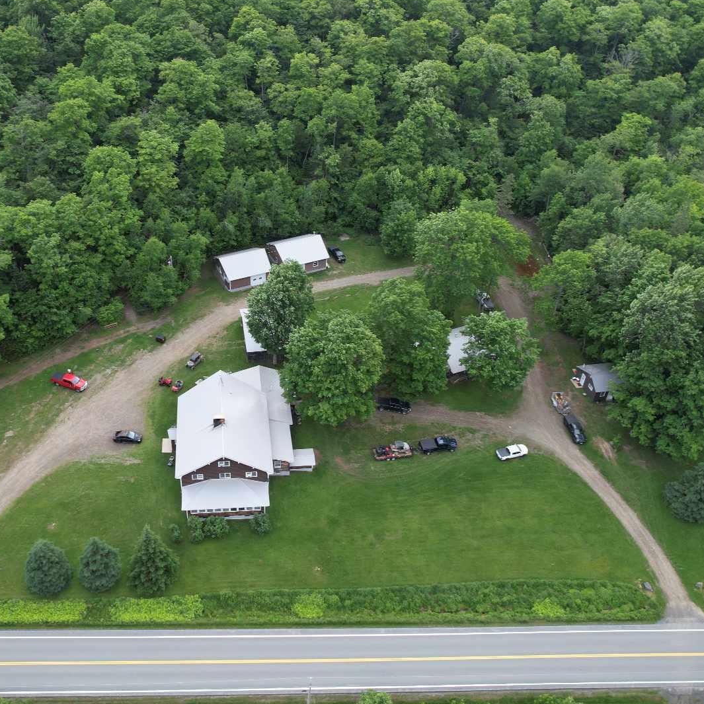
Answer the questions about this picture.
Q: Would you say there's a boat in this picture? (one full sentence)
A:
No, no boat is visible in the view.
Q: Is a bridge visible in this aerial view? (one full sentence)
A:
No, the frame has no bridge in it.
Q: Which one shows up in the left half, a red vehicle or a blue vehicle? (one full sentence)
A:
There is a red vehicle in the left half.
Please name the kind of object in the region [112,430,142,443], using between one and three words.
vehicle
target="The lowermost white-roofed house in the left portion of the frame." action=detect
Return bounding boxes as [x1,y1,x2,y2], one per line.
[162,365,317,520]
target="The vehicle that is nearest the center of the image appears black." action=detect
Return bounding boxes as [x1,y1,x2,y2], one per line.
[376,398,411,414]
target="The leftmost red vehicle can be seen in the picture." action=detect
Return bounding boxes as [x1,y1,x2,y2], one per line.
[52,372,87,391]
